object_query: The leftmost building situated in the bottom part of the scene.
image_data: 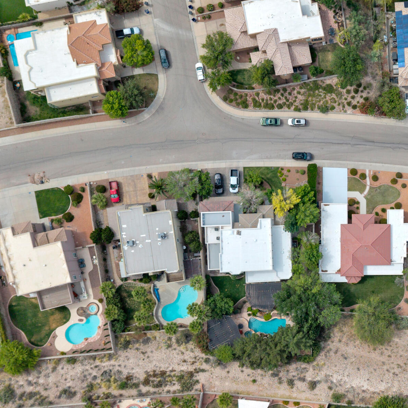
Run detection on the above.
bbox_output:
[0,212,84,310]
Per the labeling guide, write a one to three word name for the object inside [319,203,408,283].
house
